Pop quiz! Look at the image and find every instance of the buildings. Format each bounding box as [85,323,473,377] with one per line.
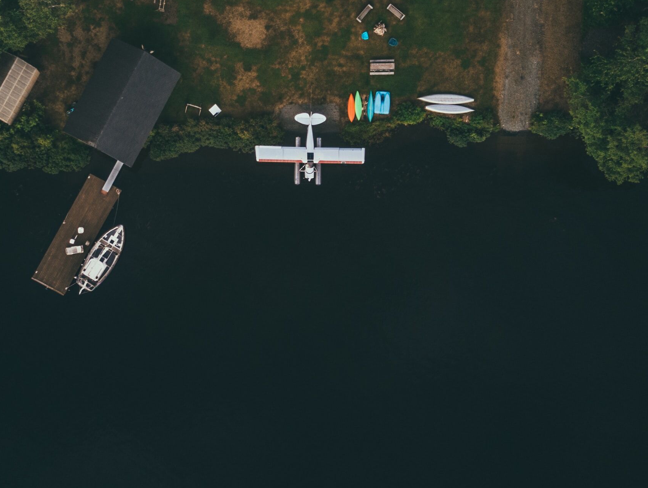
[0,52,43,124]
[63,38,181,167]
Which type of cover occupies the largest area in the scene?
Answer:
water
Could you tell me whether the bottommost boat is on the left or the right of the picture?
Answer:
left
